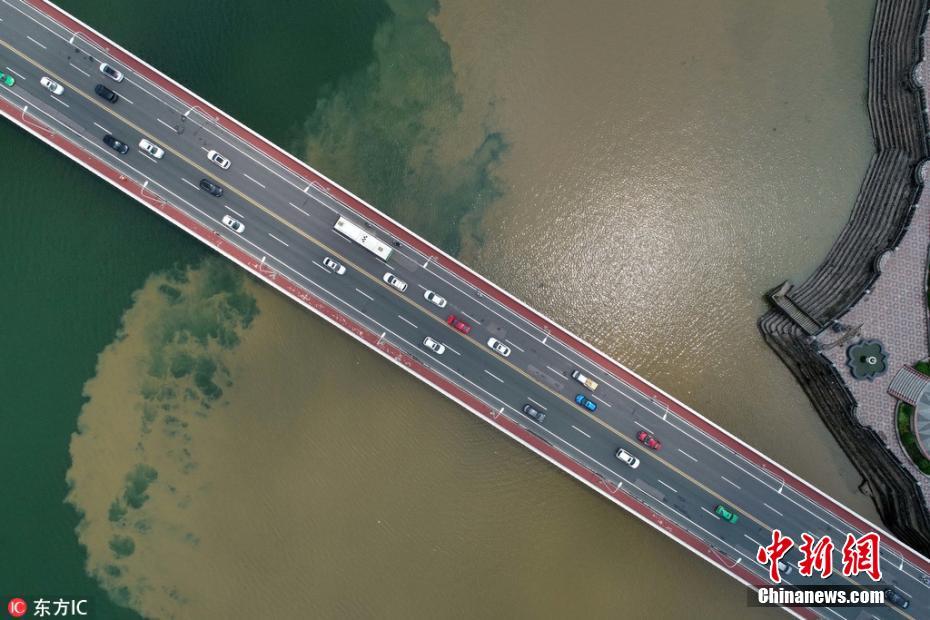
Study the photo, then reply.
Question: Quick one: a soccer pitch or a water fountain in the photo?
water fountain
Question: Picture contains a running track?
No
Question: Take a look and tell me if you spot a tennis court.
No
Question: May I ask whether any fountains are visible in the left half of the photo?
No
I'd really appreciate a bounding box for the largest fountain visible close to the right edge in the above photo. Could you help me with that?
[848,340,889,379]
